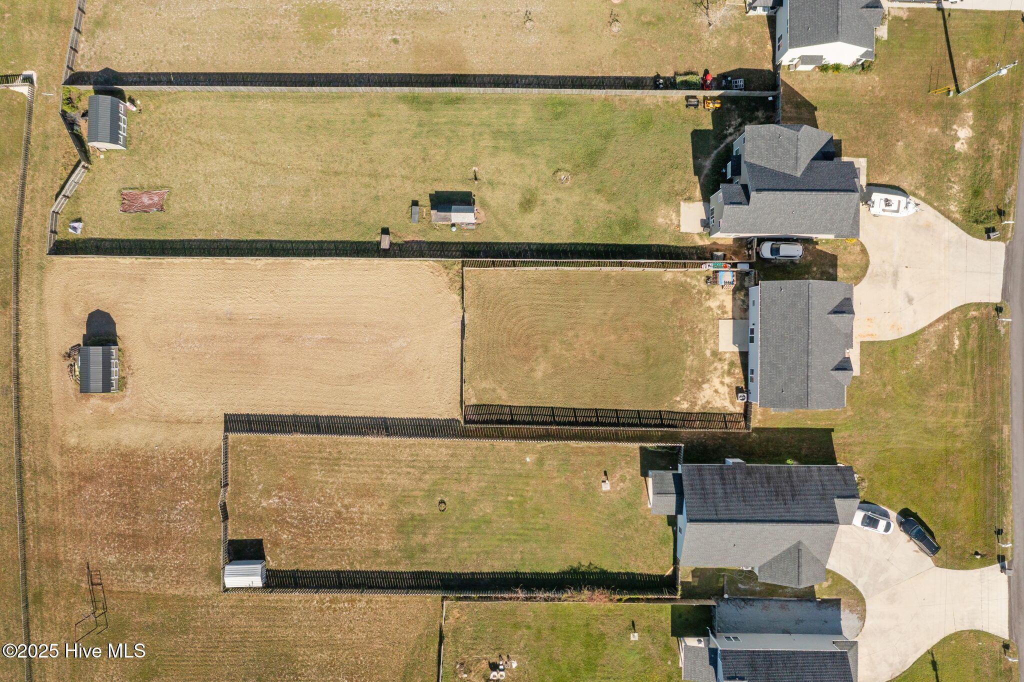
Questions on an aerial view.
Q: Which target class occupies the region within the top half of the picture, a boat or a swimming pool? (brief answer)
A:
boat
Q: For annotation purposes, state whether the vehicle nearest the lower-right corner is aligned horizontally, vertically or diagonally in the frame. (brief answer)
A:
diagonally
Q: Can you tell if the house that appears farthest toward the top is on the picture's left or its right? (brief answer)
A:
right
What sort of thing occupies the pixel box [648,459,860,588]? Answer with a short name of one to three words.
house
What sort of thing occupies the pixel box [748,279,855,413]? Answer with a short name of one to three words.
house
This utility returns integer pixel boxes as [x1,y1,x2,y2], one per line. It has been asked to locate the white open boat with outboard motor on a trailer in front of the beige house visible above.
[865,191,925,216]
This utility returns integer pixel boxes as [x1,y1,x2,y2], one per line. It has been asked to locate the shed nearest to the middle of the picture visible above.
[431,204,478,223]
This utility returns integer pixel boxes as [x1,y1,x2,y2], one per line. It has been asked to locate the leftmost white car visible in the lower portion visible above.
[852,507,895,533]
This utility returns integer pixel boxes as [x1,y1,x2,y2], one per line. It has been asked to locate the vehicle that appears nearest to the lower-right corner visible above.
[894,516,943,559]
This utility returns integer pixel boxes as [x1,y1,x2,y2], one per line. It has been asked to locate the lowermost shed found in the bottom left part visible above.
[223,561,267,593]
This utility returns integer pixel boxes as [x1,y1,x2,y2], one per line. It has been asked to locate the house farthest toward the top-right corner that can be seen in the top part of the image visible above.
[747,0,883,71]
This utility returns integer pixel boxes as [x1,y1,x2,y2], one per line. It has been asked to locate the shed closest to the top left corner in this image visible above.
[87,98,127,154]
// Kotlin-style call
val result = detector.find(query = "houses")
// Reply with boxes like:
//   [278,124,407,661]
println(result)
[709,124,860,240]
[680,627,858,682]
[747,0,883,71]
[648,459,860,588]
[748,279,855,413]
